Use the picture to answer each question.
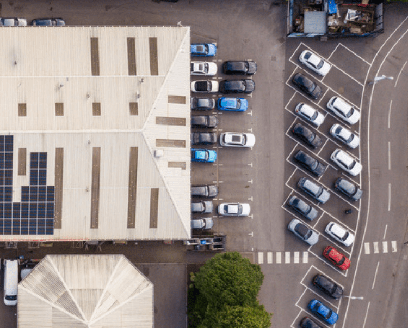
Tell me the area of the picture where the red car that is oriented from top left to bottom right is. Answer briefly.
bottom right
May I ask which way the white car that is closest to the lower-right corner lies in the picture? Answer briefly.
at an angle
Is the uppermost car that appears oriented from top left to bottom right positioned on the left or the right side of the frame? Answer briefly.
right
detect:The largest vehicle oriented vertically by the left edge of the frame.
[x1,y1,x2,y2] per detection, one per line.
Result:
[2,263,17,303]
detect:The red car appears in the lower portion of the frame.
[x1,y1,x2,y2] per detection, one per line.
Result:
[319,244,352,271]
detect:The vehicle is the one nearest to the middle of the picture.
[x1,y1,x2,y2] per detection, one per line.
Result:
[191,148,217,163]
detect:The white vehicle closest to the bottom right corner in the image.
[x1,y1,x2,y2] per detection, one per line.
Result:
[323,221,355,246]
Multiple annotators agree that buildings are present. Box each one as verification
[17,254,154,328]
[0,21,193,242]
